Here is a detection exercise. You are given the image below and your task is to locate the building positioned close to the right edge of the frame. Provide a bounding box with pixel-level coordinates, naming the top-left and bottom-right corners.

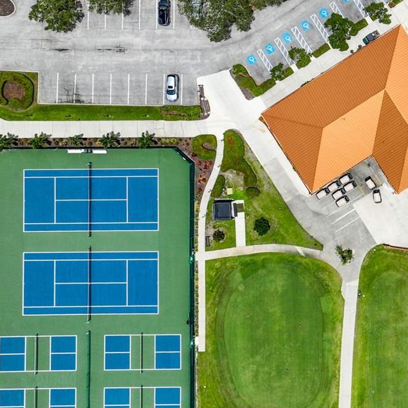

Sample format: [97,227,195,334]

[261,24,408,194]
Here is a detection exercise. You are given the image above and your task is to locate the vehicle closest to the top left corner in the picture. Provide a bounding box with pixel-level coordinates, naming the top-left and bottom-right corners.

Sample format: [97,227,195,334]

[157,0,171,26]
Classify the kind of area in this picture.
sports ground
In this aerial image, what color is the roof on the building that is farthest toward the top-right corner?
orange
